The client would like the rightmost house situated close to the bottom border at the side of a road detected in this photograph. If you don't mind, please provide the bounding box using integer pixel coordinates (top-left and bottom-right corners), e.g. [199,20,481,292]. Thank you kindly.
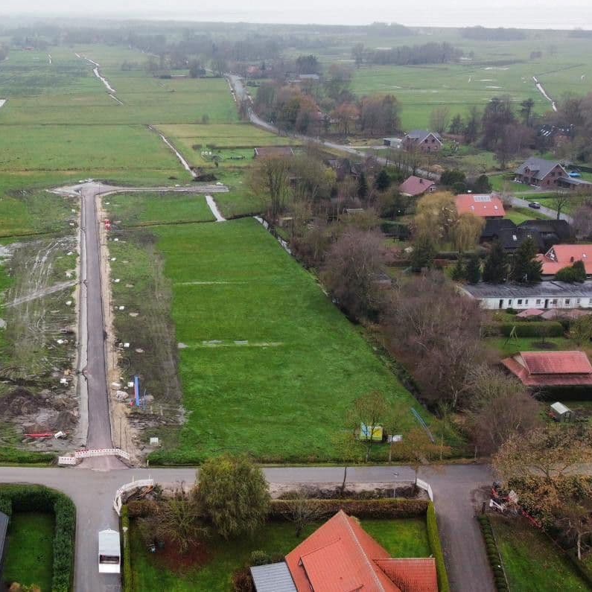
[274,507,450,592]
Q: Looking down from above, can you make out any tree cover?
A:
Yes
